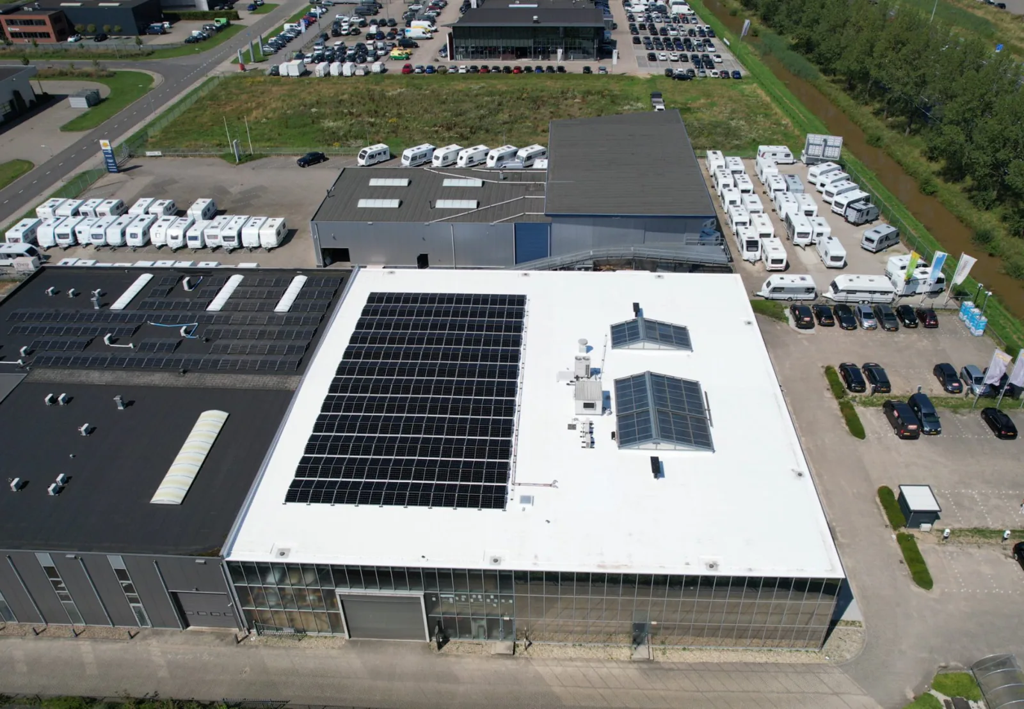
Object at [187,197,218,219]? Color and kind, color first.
white camper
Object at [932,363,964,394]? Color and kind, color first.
black car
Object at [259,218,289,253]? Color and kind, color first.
white camper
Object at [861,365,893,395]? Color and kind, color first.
black car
